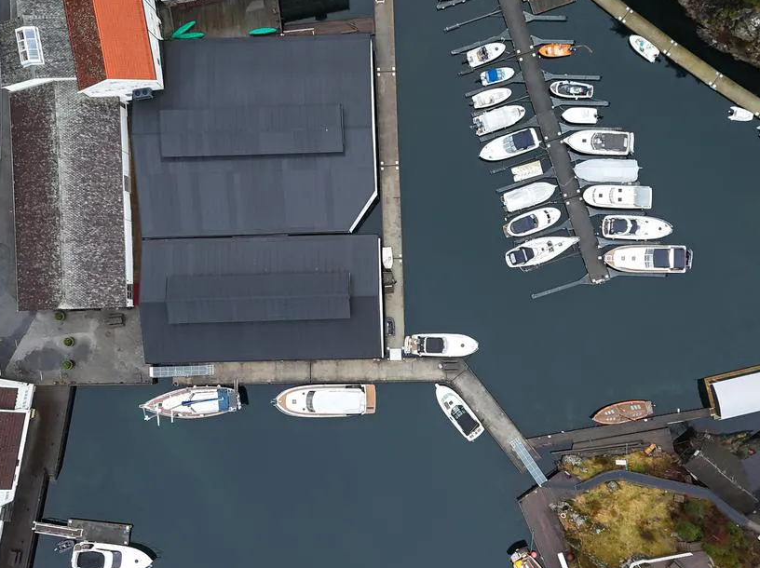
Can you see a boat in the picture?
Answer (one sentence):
Yes, the photo shows a boat.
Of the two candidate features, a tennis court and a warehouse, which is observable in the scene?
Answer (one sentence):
Of the two, only a warehouse appears.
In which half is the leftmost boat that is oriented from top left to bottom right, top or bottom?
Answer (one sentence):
It is in the bottom half that the leftmost boat that is oriented from top left to bottom right appears.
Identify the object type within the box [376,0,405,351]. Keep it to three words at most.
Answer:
pier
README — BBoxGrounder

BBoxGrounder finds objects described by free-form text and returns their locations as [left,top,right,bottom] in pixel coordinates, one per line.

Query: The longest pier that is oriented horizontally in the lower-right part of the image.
[529,406,712,455]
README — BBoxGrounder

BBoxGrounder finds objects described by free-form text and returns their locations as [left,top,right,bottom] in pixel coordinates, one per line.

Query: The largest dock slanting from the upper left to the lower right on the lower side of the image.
[446,358,542,472]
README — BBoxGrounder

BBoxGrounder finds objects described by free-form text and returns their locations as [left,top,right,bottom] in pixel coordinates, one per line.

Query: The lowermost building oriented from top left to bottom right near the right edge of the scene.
[679,438,758,516]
